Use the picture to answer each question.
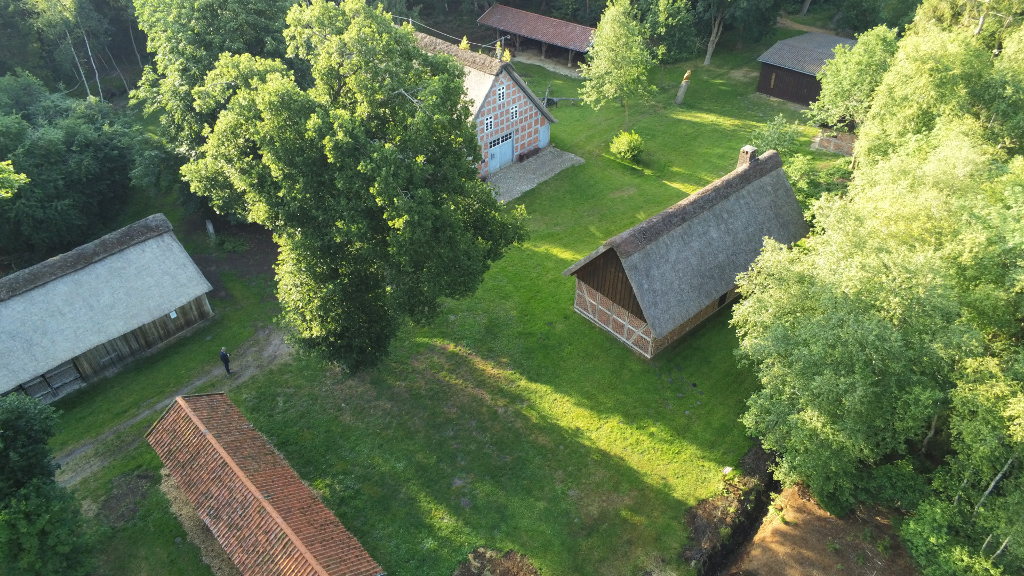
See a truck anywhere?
No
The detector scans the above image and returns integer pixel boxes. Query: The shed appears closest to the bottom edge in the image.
[143,391,391,576]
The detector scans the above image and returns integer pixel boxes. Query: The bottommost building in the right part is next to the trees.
[561,149,809,360]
